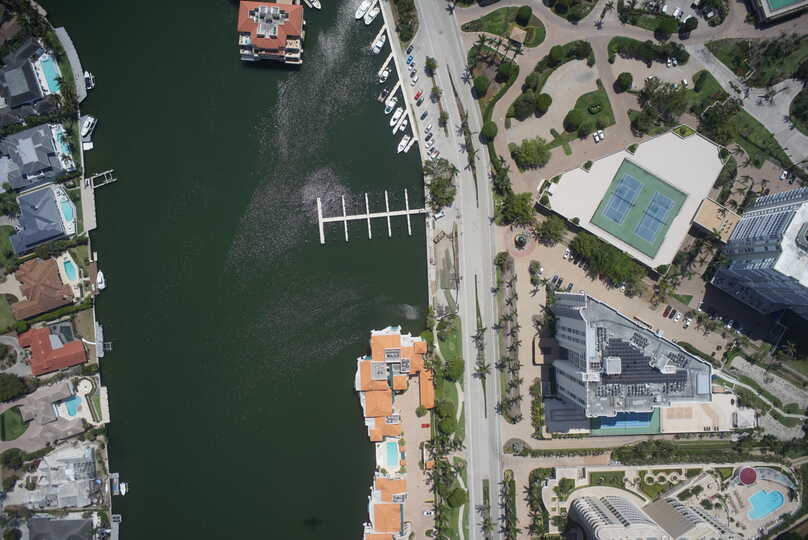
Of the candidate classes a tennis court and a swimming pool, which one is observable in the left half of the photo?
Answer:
swimming pool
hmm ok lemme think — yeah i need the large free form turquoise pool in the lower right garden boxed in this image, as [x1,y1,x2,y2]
[748,489,786,521]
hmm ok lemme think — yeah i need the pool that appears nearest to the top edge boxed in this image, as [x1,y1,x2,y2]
[36,53,63,95]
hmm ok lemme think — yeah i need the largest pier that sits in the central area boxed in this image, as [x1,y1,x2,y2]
[316,189,428,243]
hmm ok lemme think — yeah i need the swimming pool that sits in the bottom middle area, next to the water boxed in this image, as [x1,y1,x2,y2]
[376,438,405,473]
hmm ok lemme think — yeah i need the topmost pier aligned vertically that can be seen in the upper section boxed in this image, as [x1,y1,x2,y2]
[80,178,98,231]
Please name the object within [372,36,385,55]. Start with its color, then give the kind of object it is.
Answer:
white boat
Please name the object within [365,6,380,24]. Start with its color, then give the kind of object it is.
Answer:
white boat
